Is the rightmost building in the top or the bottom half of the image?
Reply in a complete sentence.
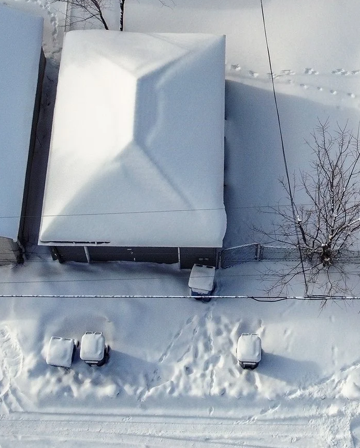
The rightmost building is in the top half of the image.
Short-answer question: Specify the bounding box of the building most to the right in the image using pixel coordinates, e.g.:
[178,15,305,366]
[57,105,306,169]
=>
[39,32,227,268]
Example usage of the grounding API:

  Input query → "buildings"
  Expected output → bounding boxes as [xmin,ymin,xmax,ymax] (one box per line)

[39,32,227,268]
[0,8,51,265]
